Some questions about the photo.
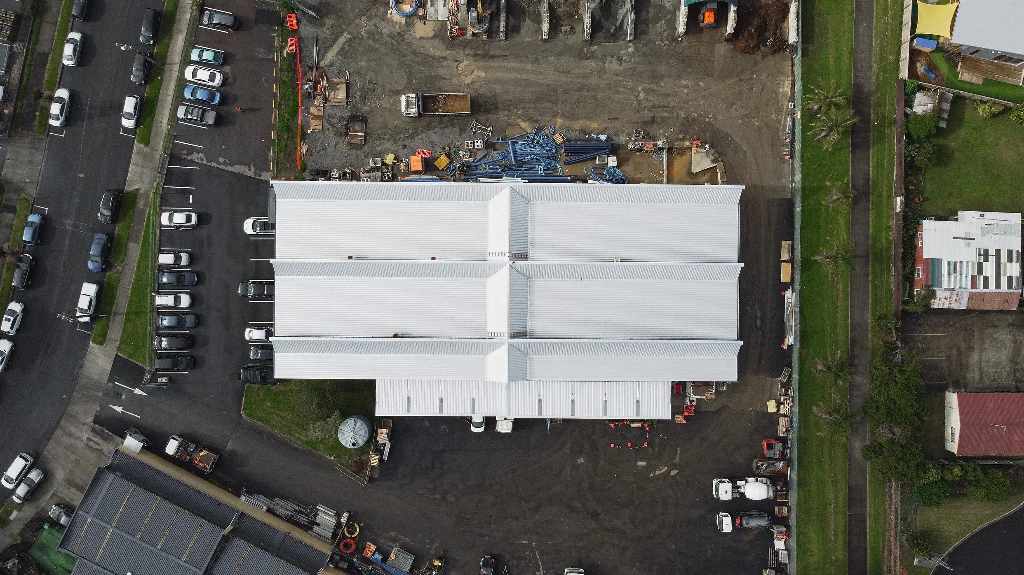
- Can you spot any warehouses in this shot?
Yes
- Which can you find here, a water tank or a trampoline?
water tank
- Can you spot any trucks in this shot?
Yes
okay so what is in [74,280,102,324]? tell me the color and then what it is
white vehicle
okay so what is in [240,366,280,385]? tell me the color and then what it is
black car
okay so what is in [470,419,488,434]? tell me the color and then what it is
white car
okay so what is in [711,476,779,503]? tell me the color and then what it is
white truck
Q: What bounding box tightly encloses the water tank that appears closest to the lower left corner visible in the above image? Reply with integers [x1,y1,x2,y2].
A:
[339,413,374,448]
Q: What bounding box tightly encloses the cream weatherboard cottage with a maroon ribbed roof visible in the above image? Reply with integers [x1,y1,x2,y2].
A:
[946,391,1024,457]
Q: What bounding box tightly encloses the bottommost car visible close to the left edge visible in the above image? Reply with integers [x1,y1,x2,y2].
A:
[46,501,73,528]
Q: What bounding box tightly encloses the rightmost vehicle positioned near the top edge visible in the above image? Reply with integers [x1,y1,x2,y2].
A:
[696,1,718,27]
